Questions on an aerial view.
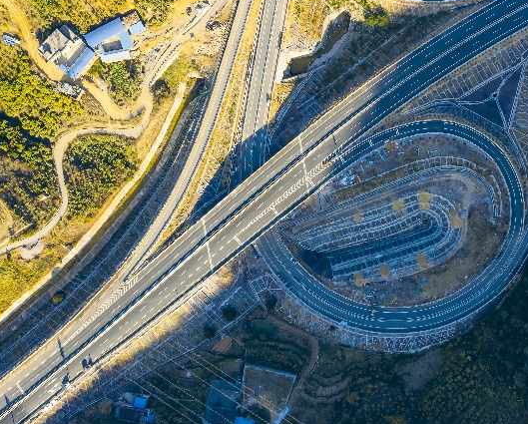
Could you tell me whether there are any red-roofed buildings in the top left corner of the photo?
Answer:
No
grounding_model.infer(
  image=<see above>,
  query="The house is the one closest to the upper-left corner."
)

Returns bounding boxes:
[37,25,96,79]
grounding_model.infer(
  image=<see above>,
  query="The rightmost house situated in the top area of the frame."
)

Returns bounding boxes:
[83,11,145,62]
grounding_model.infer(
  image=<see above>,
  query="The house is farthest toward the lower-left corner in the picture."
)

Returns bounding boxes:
[113,395,155,424]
